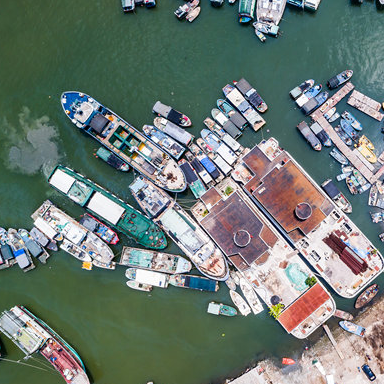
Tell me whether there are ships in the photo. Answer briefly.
Yes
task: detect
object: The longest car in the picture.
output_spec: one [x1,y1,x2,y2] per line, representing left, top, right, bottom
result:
[360,363,376,380]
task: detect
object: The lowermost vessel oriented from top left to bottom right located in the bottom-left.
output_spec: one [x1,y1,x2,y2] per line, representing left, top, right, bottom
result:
[0,306,93,384]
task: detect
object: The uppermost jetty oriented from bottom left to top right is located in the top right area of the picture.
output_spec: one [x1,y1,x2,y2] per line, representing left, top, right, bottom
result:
[305,82,355,121]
